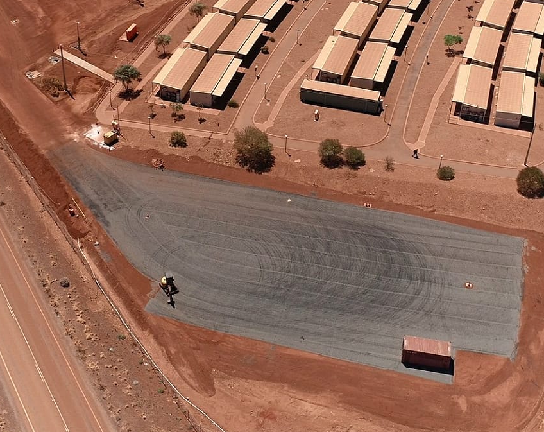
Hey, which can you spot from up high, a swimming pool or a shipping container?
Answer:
shipping container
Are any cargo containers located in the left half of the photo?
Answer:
No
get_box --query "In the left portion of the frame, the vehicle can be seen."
[161,276,176,305]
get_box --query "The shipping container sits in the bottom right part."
[402,336,451,369]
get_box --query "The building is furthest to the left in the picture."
[153,50,210,103]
